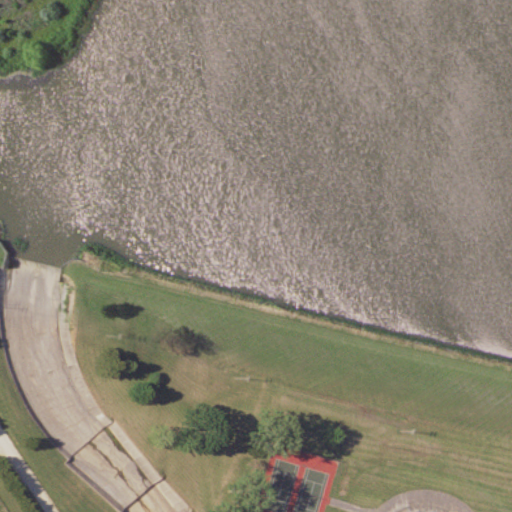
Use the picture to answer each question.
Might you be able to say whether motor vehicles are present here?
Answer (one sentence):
No, I can't see a single motor vehicle in this photo.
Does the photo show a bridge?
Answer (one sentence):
No, the frame has no bridge in it.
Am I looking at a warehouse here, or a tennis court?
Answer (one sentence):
Visible in the photo is a tennis court.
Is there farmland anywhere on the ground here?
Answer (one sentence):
No, there's no farmland in this view.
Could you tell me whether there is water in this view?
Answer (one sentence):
Yes, the picture does contain water.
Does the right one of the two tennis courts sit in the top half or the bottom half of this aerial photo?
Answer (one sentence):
It is in the bottom half that the right one of the two tennis courts appears.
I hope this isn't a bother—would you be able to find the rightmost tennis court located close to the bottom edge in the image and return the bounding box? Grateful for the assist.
[294,468,329,512]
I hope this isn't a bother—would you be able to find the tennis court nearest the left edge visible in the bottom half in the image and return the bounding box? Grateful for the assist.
[264,460,299,512]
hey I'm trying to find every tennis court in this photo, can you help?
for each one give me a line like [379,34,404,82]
[294,468,329,512]
[264,460,299,512]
